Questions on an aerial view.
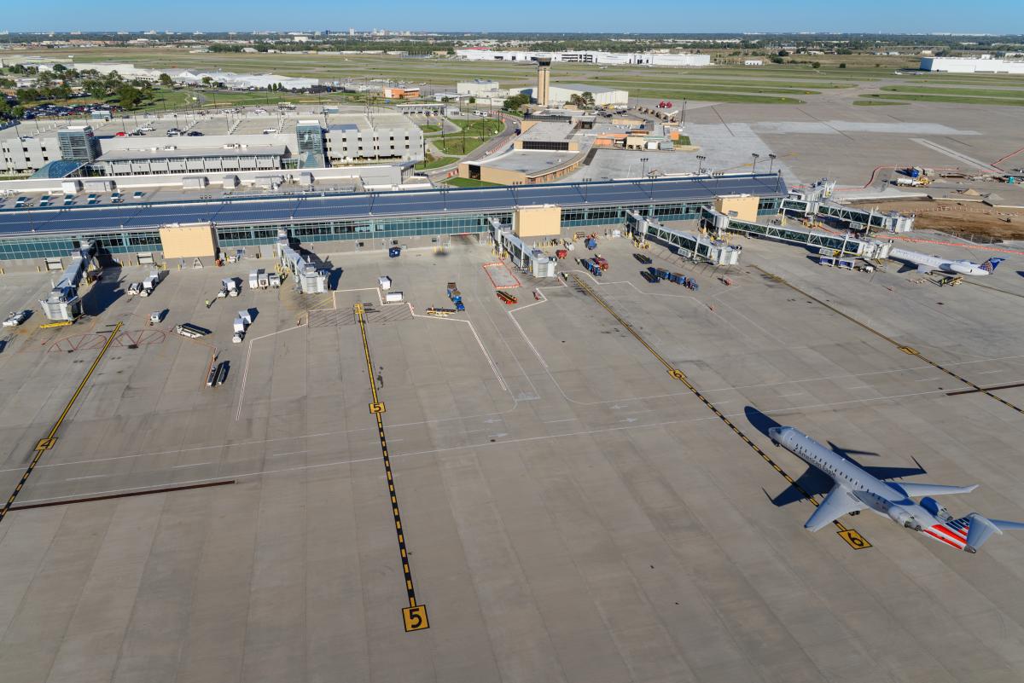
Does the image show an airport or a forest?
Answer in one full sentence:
The area seen from above is an airport.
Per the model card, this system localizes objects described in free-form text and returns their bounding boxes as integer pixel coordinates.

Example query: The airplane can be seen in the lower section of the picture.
[770,426,1024,560]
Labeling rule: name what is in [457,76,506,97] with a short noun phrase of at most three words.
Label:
building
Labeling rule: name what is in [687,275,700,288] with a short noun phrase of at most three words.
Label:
vehicle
